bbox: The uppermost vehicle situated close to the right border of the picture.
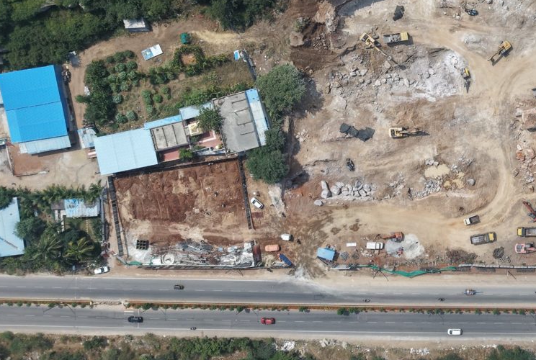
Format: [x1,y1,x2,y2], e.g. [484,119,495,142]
[488,40,510,64]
